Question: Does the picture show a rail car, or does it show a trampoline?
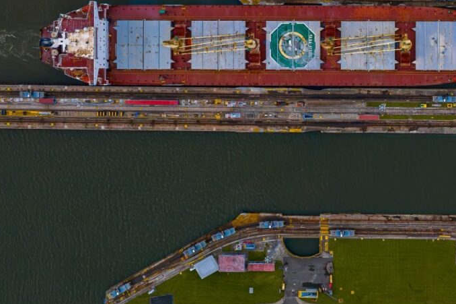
rail car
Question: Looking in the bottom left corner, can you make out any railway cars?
Yes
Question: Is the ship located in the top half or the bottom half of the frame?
top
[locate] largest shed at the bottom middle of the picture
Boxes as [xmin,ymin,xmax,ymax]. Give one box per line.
[218,254,246,273]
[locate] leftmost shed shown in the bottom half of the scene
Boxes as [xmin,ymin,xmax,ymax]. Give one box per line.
[195,255,219,278]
